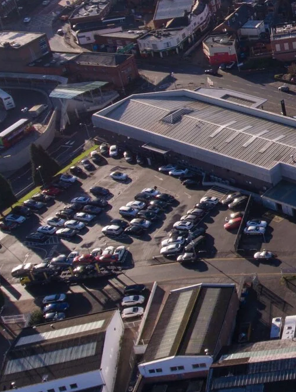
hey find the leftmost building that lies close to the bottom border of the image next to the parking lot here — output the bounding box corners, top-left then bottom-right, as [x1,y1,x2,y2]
[0,309,127,392]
